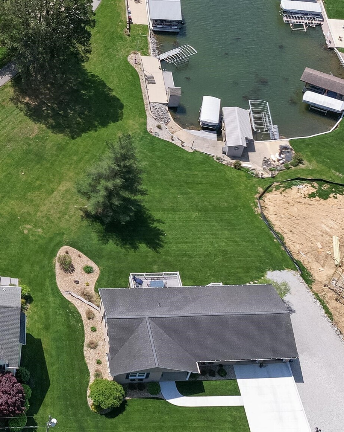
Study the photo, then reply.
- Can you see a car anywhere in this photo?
No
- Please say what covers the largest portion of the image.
grass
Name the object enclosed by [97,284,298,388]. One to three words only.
house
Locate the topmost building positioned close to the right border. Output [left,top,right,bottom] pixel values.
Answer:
[297,68,344,102]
